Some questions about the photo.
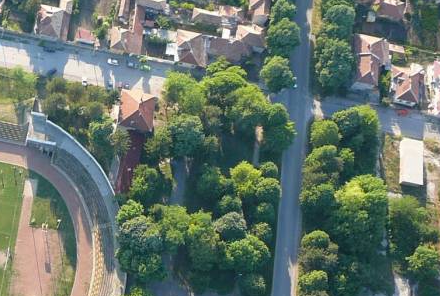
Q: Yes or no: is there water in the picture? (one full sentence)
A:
No, there's no water in this view.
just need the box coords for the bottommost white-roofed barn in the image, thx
[395,138,423,189]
